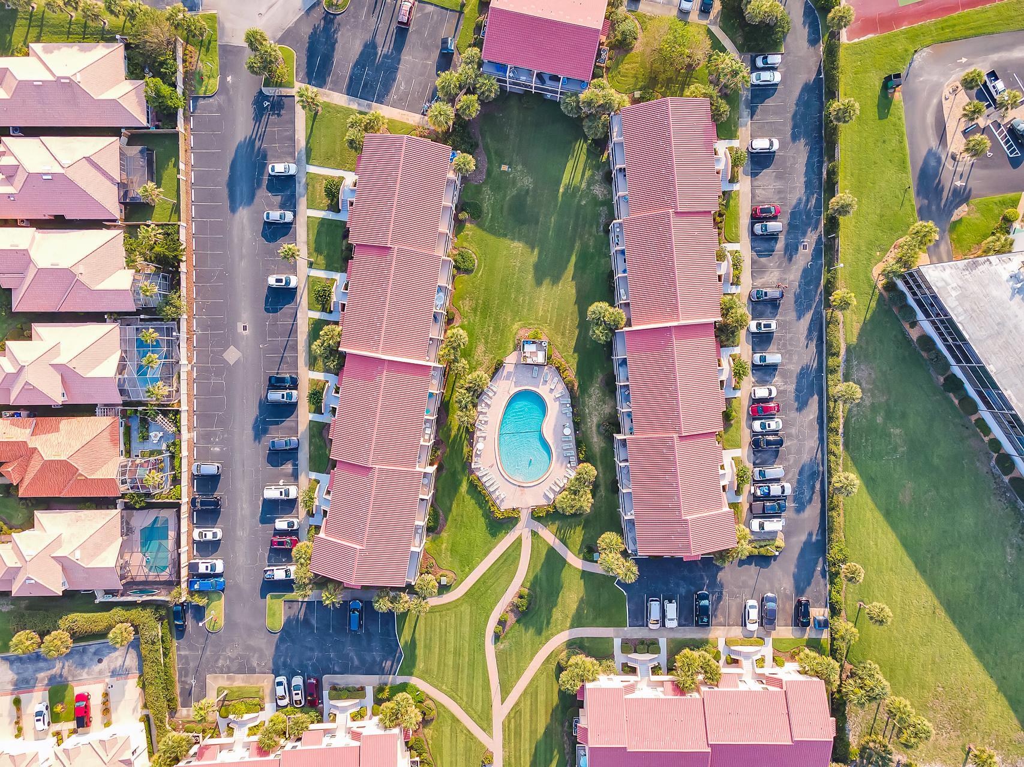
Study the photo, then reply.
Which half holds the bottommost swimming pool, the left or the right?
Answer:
left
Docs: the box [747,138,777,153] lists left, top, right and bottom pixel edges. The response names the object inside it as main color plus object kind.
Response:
white car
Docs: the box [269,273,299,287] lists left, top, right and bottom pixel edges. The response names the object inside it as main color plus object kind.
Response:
white car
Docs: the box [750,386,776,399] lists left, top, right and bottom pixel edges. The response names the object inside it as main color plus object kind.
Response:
white vehicle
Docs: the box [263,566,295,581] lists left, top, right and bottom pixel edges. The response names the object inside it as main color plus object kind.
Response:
white vehicle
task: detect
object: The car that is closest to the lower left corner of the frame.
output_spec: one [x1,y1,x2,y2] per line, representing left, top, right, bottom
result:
[34,701,53,732]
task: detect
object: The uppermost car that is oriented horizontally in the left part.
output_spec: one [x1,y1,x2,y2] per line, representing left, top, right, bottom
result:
[268,163,299,177]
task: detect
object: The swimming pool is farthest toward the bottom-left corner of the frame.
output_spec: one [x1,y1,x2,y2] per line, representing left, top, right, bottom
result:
[139,516,169,573]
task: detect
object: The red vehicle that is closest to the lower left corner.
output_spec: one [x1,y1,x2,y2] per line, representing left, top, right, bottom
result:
[75,691,93,724]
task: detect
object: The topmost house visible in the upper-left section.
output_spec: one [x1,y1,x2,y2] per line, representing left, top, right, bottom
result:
[0,42,152,130]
